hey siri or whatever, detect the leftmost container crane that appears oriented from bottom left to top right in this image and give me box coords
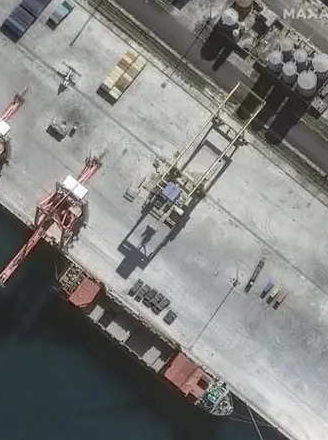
[0,158,110,292]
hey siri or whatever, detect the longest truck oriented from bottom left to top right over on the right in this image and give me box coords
[243,261,267,289]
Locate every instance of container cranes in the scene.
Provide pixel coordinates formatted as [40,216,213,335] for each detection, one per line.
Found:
[0,94,30,167]
[137,83,266,228]
[0,158,110,292]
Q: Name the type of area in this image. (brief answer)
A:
port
